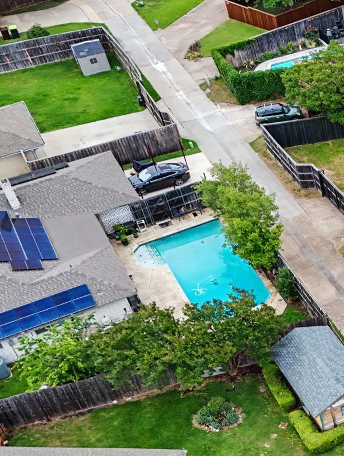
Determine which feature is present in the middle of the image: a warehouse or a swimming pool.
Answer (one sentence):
Visible in the middle of the image is a swimming pool.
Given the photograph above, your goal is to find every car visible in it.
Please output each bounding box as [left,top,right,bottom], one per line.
[130,162,191,195]
[253,97,303,123]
